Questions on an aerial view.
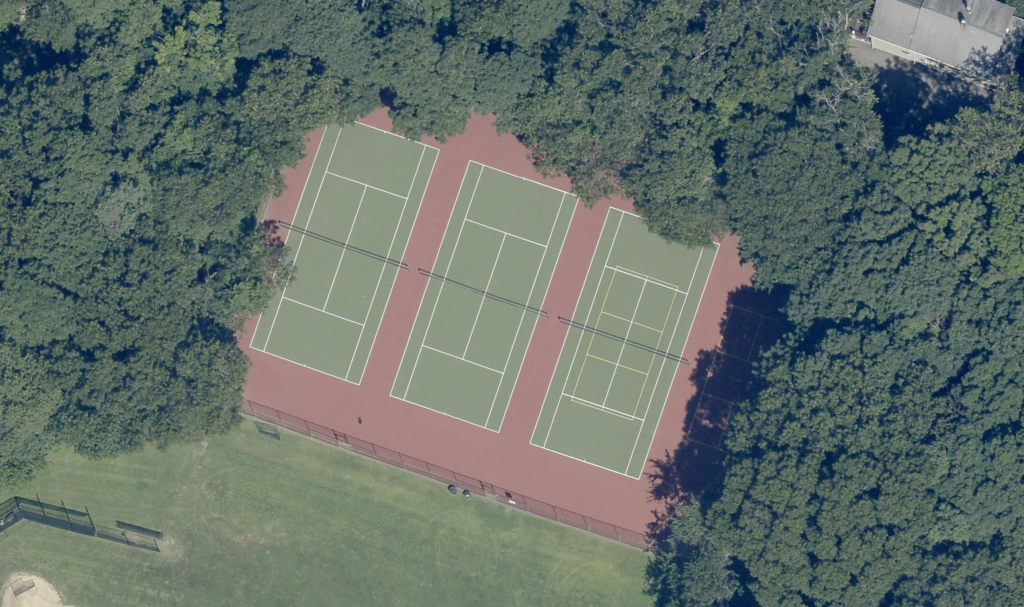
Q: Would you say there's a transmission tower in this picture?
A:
No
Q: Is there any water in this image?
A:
No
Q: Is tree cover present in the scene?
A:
Yes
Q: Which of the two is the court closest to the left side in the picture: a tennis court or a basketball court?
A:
tennis court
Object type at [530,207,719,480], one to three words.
tennis court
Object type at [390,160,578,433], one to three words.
tennis court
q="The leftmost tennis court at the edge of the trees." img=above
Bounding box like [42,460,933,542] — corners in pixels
[250,117,438,385]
